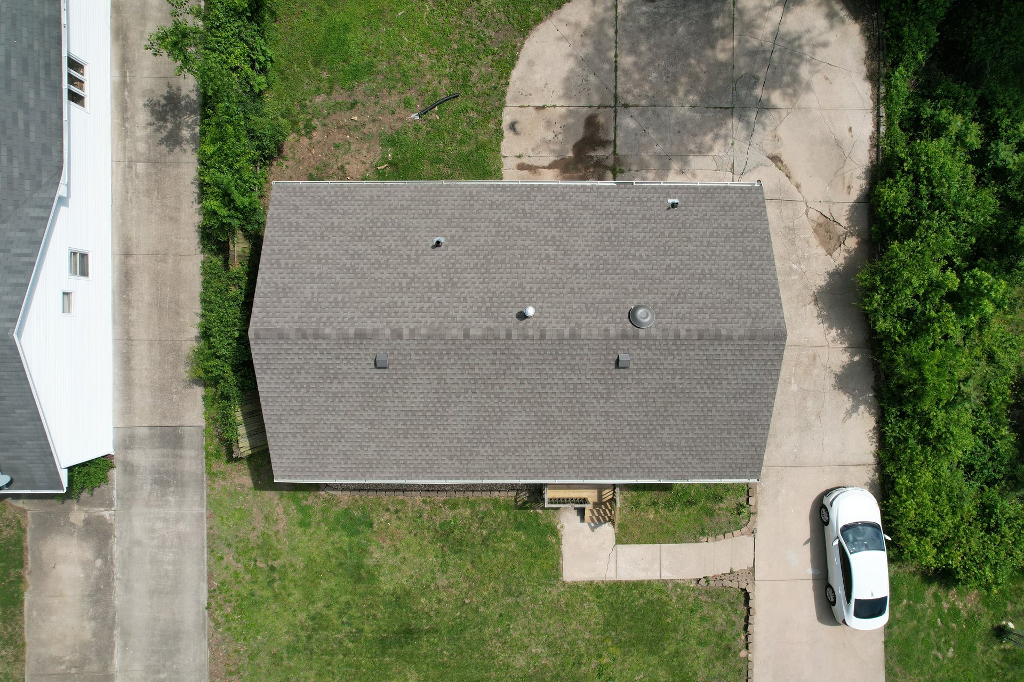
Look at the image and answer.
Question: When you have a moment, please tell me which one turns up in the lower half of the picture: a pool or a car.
car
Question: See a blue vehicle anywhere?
No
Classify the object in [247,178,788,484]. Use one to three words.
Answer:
house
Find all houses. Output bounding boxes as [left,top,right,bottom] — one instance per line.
[247,178,788,484]
[0,0,114,497]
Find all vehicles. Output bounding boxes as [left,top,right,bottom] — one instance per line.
[823,487,897,634]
